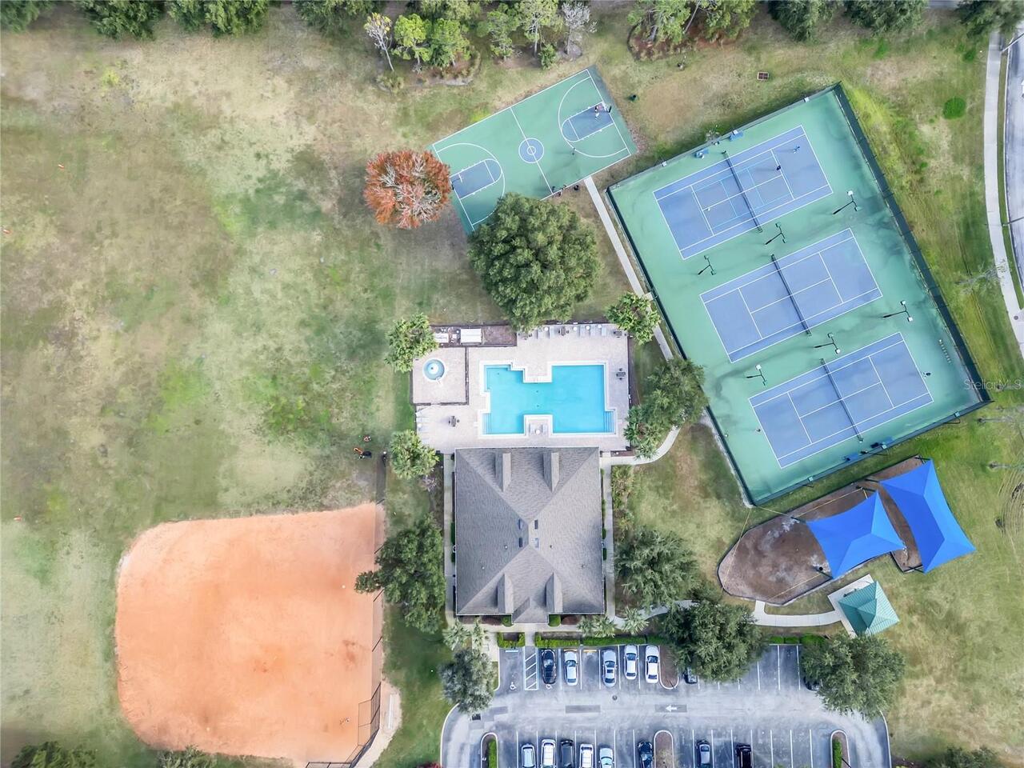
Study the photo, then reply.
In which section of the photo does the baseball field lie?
bottom left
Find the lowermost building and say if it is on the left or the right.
right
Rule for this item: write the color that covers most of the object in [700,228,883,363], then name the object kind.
blue tennis court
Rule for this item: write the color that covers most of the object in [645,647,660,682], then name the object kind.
white car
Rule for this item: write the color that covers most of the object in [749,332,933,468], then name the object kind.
blue tennis court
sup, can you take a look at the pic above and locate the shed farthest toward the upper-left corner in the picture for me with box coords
[460,328,482,343]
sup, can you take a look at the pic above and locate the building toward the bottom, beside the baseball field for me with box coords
[454,447,605,624]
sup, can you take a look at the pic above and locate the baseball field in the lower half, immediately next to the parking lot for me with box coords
[116,502,386,768]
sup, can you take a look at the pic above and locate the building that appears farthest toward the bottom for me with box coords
[835,580,900,636]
